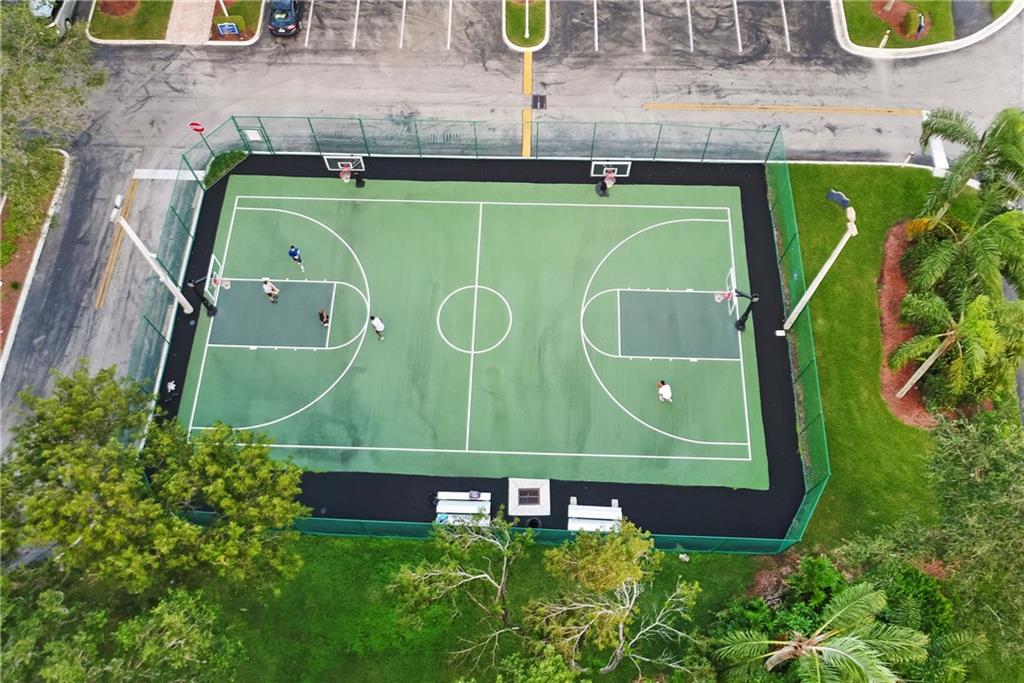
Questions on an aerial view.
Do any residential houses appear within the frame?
No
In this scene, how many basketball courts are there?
1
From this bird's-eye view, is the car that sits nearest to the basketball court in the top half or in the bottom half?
top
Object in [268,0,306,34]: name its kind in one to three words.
car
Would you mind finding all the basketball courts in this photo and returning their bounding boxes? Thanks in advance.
[135,156,803,551]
